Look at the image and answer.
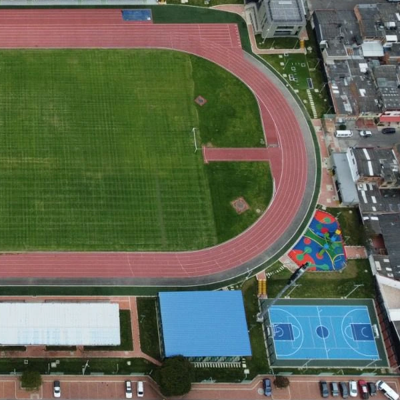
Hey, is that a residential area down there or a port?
residential area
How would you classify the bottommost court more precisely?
basketball court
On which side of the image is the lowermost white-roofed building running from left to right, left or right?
left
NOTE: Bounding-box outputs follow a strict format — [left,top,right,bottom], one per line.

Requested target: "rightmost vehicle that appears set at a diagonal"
[378,381,400,400]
